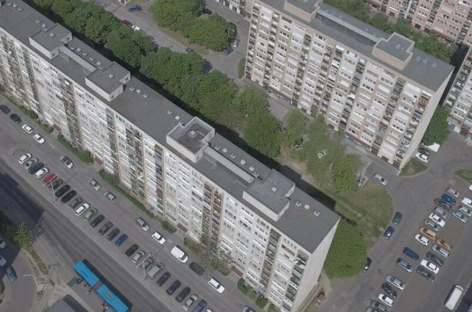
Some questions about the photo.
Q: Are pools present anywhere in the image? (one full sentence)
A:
No, the picture doesn't show any pool.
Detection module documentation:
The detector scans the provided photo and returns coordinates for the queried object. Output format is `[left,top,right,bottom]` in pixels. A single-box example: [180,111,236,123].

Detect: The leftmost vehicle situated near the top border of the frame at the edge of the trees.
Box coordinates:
[127,1,142,13]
